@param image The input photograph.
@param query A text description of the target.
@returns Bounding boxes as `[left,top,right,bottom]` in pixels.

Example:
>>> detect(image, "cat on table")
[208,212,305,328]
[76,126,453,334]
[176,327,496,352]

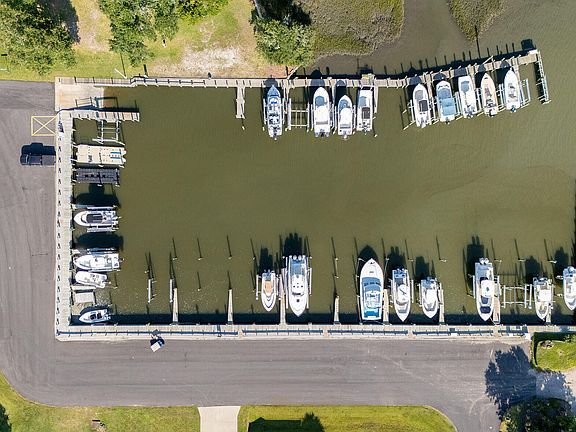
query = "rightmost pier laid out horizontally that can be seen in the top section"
[396,47,541,93]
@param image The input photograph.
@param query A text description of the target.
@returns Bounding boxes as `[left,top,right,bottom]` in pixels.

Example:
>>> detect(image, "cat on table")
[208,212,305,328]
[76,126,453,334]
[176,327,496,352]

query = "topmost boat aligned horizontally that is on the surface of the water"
[77,145,128,165]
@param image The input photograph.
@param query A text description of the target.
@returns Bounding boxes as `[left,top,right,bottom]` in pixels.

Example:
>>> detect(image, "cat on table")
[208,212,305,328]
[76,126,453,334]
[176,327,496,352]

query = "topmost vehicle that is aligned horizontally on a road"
[20,152,56,168]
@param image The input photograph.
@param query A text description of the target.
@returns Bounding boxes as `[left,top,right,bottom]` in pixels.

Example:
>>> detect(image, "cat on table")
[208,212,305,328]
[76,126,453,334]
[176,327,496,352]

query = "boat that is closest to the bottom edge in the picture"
[79,308,115,324]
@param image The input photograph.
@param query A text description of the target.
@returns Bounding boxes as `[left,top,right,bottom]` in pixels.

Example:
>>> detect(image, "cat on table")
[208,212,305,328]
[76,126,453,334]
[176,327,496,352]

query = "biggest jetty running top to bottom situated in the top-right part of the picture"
[530,55,558,106]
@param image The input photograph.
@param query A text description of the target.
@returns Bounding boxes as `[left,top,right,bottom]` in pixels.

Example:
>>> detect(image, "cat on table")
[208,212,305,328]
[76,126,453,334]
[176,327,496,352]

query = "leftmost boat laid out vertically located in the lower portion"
[261,268,276,312]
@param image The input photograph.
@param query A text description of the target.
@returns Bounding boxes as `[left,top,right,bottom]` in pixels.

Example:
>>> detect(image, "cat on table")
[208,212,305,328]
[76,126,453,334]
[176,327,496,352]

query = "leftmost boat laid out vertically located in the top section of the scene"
[266,85,282,141]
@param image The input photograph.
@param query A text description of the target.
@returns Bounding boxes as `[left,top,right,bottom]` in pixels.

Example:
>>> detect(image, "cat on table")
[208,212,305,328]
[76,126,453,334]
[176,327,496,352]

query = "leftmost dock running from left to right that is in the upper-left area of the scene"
[58,110,142,124]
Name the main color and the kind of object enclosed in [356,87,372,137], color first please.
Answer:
white boat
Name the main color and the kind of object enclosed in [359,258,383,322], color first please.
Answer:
white boat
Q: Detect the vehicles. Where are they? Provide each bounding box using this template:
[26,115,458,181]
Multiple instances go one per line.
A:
[20,152,56,168]
[150,336,167,351]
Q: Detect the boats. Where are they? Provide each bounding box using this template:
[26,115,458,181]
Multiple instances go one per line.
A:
[474,260,494,321]
[288,253,308,317]
[420,277,439,319]
[77,145,128,165]
[413,82,431,130]
[503,68,521,113]
[458,74,478,120]
[266,85,282,141]
[338,94,354,142]
[312,86,330,141]
[560,264,576,310]
[434,79,455,126]
[359,258,383,322]
[75,272,112,289]
[72,210,123,226]
[392,266,411,321]
[261,268,276,312]
[71,253,125,270]
[79,308,115,324]
[356,87,372,137]
[480,73,498,118]
[532,275,554,320]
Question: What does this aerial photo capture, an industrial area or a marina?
marina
